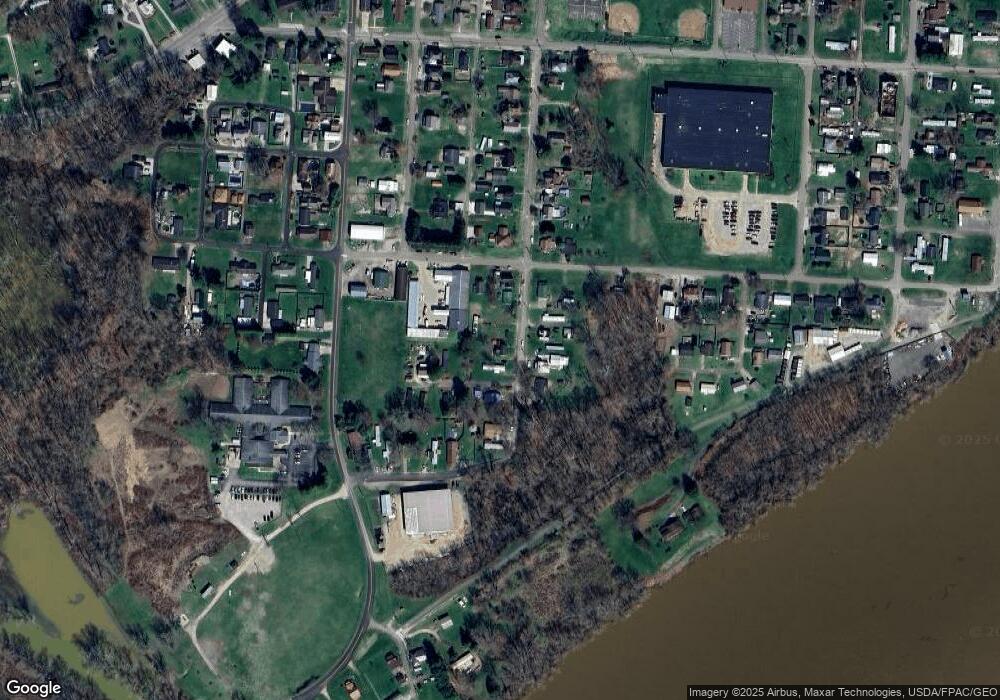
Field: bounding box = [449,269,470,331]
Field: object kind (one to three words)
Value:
building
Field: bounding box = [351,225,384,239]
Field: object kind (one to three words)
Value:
building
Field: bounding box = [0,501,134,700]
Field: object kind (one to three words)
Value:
pond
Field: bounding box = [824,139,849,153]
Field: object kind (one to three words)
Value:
house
